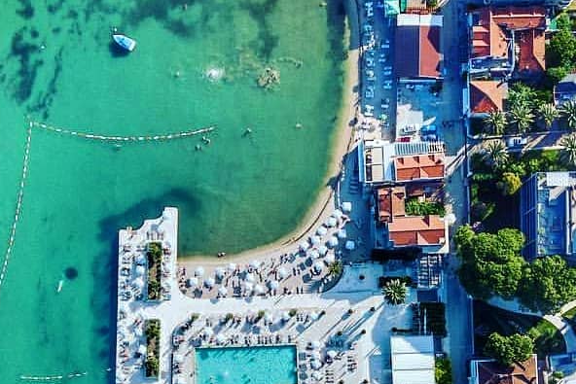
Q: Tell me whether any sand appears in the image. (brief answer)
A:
Yes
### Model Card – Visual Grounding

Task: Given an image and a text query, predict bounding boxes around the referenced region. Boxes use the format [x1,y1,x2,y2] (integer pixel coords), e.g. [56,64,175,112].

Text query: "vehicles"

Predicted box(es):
[419,123,438,132]
[506,137,525,145]
[419,133,438,141]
